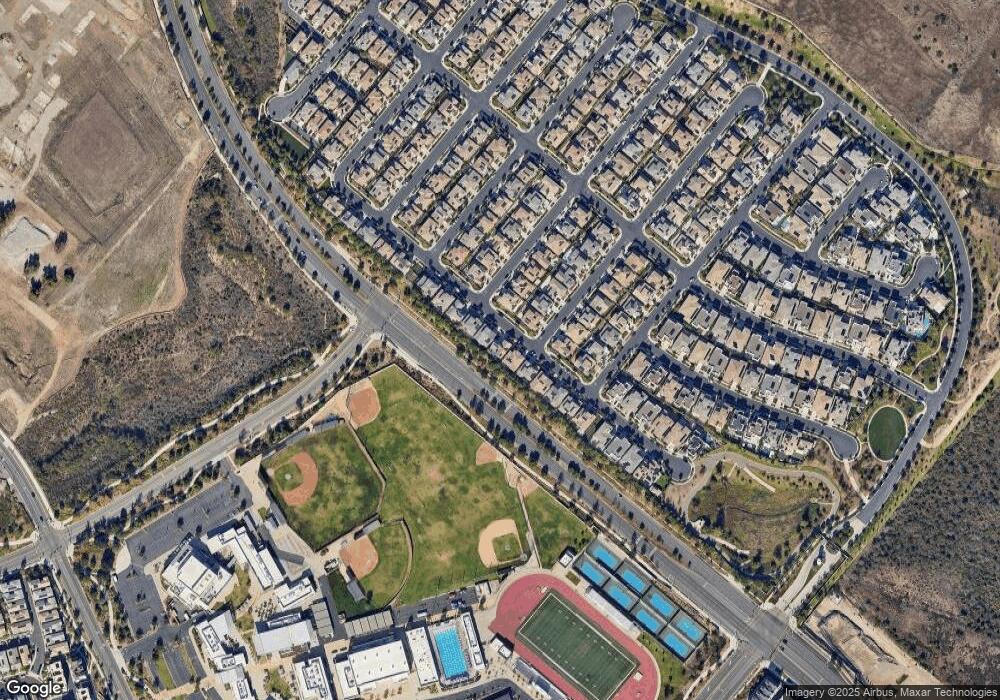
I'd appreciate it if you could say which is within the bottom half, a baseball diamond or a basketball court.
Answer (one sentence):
Looking within the bottom half, you will find a baseball diamond.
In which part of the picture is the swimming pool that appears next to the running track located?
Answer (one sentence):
You can find the swimming pool that appears next to the running track in the bottom area of the picture.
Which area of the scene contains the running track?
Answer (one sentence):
The running track sits in the bottom section of the image.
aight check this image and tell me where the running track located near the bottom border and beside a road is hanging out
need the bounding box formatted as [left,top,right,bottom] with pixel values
[494,575,660,700]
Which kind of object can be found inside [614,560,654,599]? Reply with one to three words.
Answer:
tennis court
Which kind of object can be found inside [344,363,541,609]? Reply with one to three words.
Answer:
sports field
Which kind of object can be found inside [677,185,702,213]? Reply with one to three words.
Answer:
house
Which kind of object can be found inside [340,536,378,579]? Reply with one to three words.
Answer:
baseball field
